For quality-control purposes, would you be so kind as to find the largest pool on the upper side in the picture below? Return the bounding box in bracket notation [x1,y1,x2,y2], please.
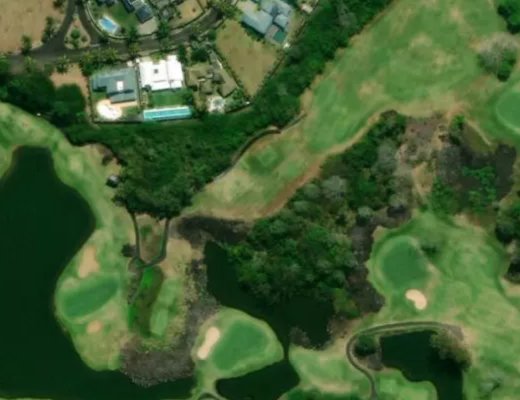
[144,106,189,121]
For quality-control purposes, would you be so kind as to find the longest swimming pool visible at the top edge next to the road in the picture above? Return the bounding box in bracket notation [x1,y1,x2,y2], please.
[98,15,121,35]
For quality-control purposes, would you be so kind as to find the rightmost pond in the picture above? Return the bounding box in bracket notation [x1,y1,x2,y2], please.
[379,330,463,400]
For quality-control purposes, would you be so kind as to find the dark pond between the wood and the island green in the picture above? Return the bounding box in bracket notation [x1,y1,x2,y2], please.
[205,242,333,400]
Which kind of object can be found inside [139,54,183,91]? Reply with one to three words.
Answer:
house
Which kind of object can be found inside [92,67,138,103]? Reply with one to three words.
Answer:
house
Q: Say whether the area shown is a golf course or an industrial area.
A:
golf course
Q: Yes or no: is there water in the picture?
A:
Yes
